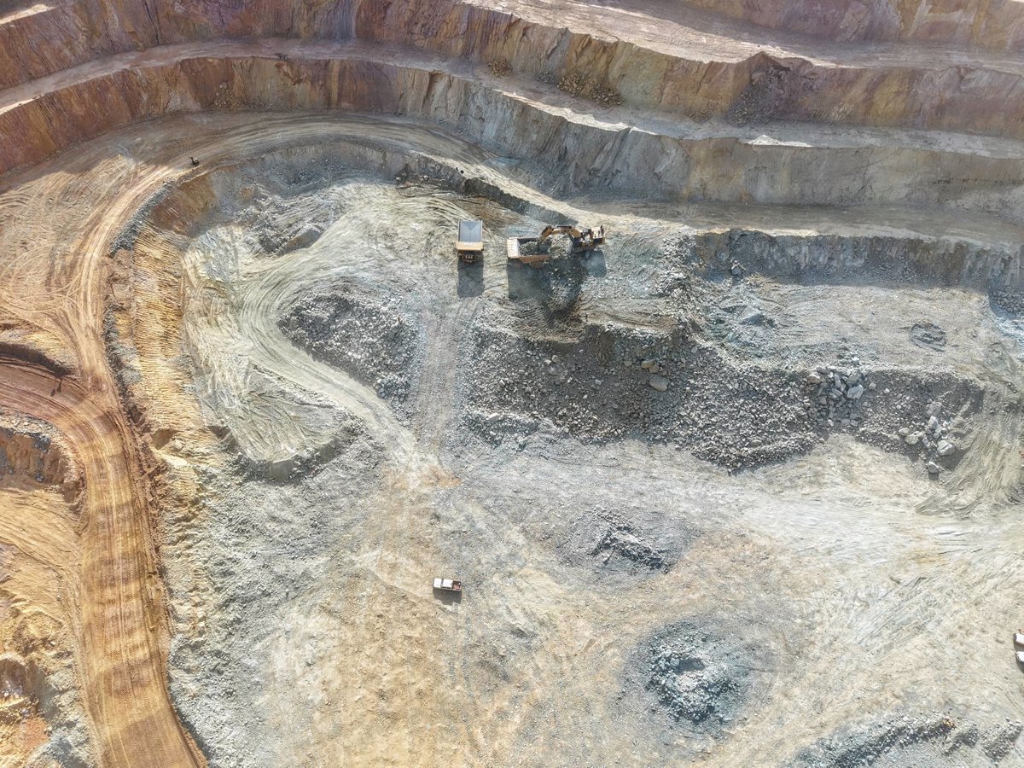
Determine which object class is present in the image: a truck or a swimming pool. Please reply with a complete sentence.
Of the two, only a truck appears.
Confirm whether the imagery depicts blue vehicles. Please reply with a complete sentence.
No, there appears to be no blue vehicle in this shot.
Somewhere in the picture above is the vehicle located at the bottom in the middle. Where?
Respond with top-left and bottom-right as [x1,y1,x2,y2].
[433,579,462,592]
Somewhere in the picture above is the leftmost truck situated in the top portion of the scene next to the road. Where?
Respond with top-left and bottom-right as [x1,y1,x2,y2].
[454,217,484,264]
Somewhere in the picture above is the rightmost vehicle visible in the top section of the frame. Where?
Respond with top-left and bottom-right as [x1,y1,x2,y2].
[542,227,612,260]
